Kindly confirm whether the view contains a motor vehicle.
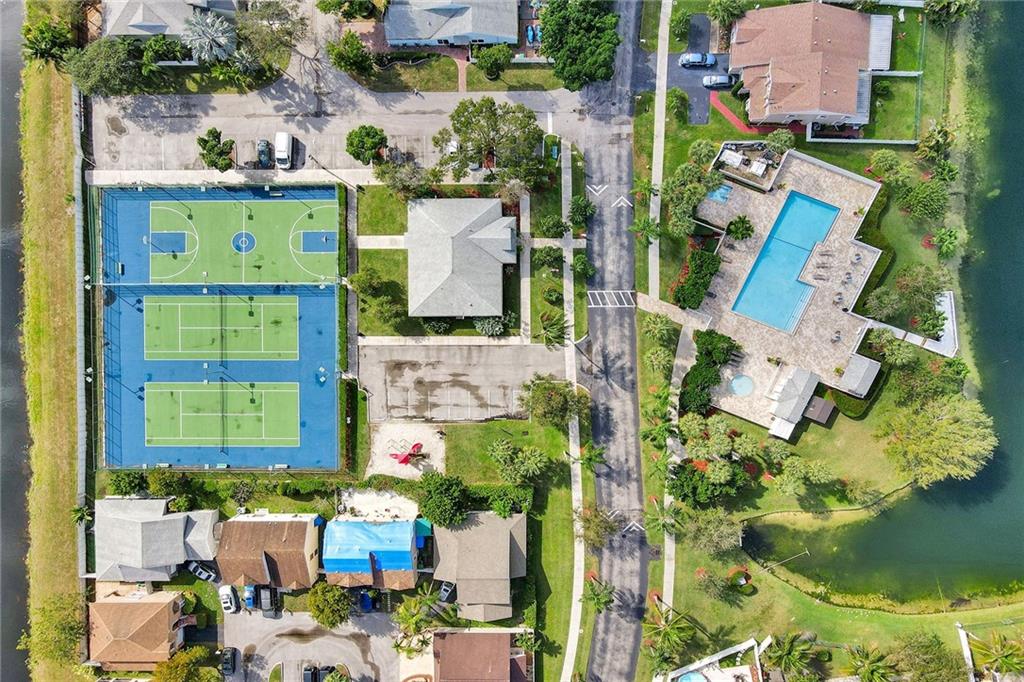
Yes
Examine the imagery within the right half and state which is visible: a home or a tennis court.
home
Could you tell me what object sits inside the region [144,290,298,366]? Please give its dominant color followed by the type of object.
green tennis court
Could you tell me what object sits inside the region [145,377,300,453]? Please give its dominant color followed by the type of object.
green tennis court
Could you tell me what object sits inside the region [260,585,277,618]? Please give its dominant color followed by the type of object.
gray vehicle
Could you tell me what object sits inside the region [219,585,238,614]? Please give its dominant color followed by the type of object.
white car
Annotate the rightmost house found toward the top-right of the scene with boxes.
[724,2,870,125]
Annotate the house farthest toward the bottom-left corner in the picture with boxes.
[89,594,181,671]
